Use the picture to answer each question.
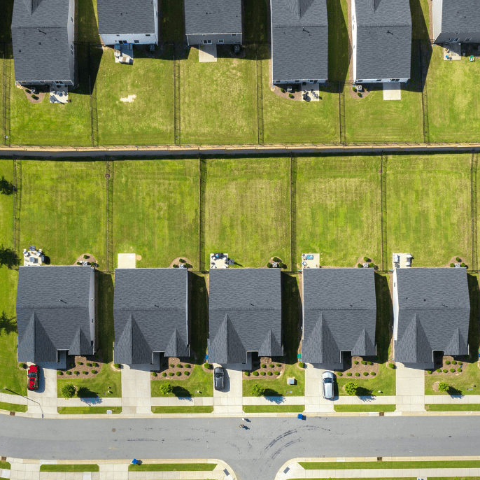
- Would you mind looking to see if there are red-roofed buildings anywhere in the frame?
No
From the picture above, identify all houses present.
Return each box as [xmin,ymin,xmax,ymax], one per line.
[15,266,95,363]
[434,0,480,44]
[96,0,156,45]
[301,268,376,364]
[113,268,189,364]
[208,268,282,364]
[185,0,241,44]
[10,0,72,85]
[272,0,330,84]
[355,0,413,84]
[393,266,470,364]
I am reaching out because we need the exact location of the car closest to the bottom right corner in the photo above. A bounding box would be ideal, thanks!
[322,371,335,398]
